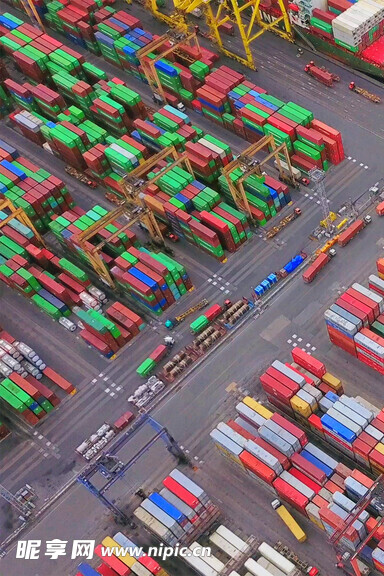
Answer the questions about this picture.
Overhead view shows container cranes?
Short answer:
Yes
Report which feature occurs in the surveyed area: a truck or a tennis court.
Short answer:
truck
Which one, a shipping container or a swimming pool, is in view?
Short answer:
shipping container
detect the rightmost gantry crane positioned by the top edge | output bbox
[203,0,297,71]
